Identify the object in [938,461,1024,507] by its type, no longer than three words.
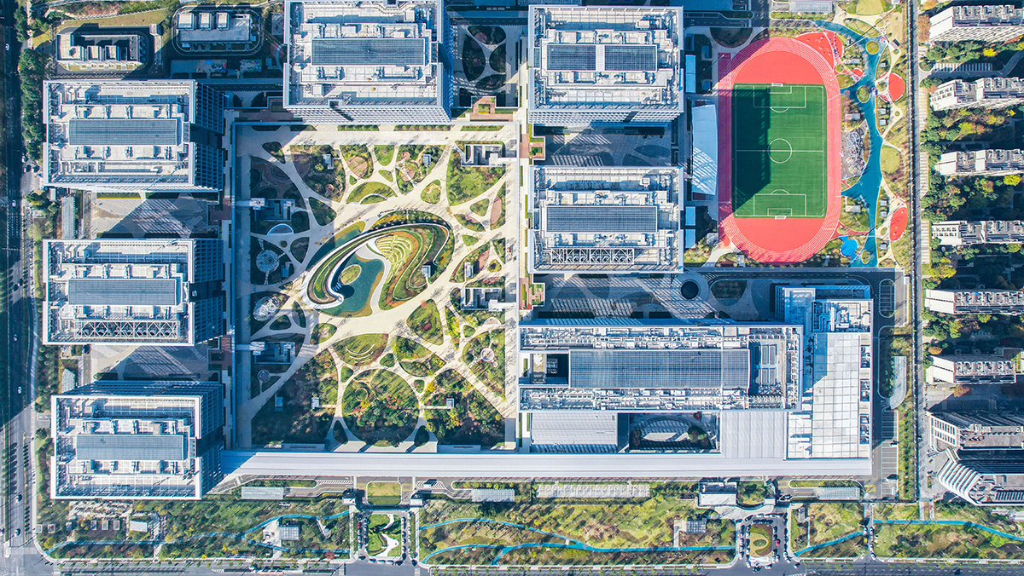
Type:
building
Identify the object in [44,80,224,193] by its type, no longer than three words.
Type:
building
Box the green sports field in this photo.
[733,83,827,218]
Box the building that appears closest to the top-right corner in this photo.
[927,5,1024,38]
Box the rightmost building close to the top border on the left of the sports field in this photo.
[528,5,684,126]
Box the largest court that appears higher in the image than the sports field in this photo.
[795,31,833,65]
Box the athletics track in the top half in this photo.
[718,36,841,264]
